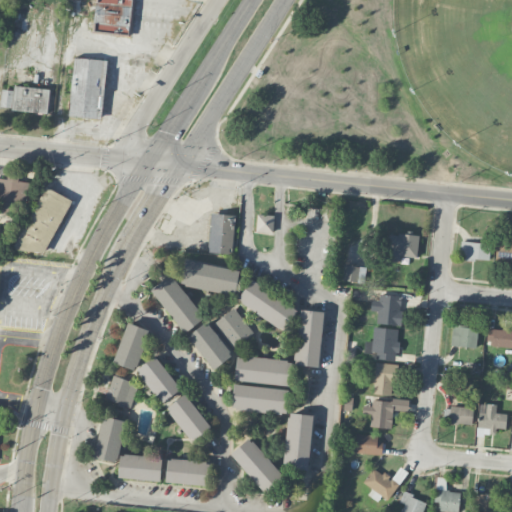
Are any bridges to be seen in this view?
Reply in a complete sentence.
No, the frame has no bridge in it.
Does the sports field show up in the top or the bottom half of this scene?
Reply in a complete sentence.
You can find the sports field in the top half.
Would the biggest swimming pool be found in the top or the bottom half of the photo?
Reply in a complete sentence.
The bottom half of the photo is where the biggest swimming pool is.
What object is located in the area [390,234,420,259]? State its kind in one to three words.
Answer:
house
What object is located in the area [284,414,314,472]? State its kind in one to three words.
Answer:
building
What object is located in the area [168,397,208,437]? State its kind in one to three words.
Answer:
building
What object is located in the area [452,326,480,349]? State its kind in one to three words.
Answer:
house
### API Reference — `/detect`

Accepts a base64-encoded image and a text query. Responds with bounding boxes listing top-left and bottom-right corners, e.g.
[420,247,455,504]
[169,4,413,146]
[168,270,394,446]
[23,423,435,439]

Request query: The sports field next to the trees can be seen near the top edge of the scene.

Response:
[392,0,512,174]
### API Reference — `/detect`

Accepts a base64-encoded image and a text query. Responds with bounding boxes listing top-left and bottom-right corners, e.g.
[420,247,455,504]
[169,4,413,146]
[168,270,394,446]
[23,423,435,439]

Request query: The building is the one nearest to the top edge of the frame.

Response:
[94,0,132,34]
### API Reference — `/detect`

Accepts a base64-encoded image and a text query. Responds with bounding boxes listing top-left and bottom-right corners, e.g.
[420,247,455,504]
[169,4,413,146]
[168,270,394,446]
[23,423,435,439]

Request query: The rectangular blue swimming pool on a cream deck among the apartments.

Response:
[134,402,156,439]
